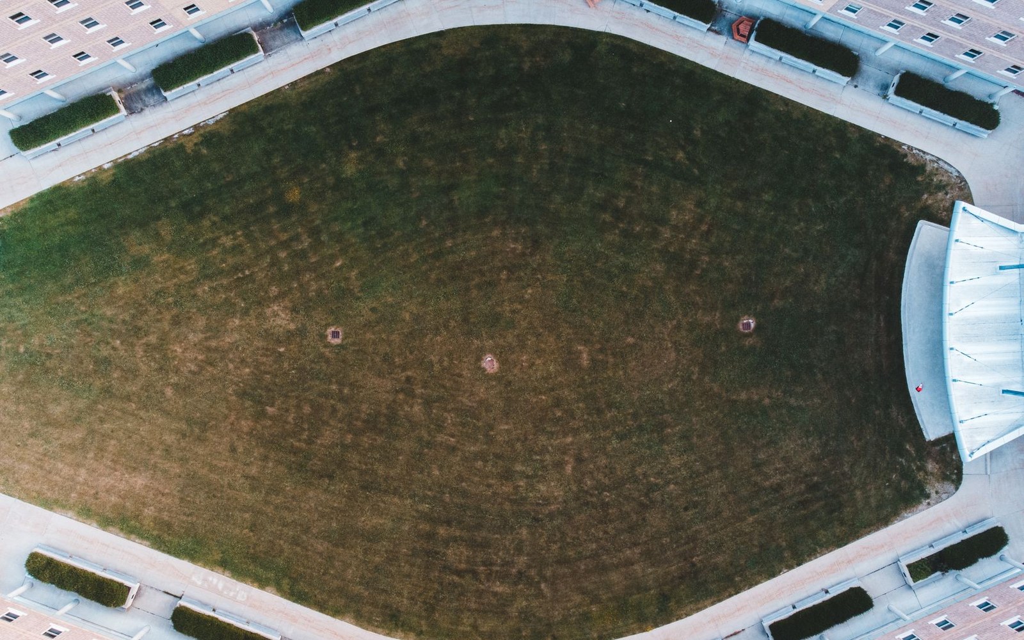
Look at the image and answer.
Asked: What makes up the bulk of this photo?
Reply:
grass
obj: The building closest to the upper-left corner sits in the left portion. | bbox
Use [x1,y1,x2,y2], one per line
[0,0,274,121]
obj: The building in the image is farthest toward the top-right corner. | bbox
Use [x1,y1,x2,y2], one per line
[776,0,1024,100]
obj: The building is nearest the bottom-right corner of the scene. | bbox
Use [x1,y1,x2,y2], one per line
[849,555,1024,640]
